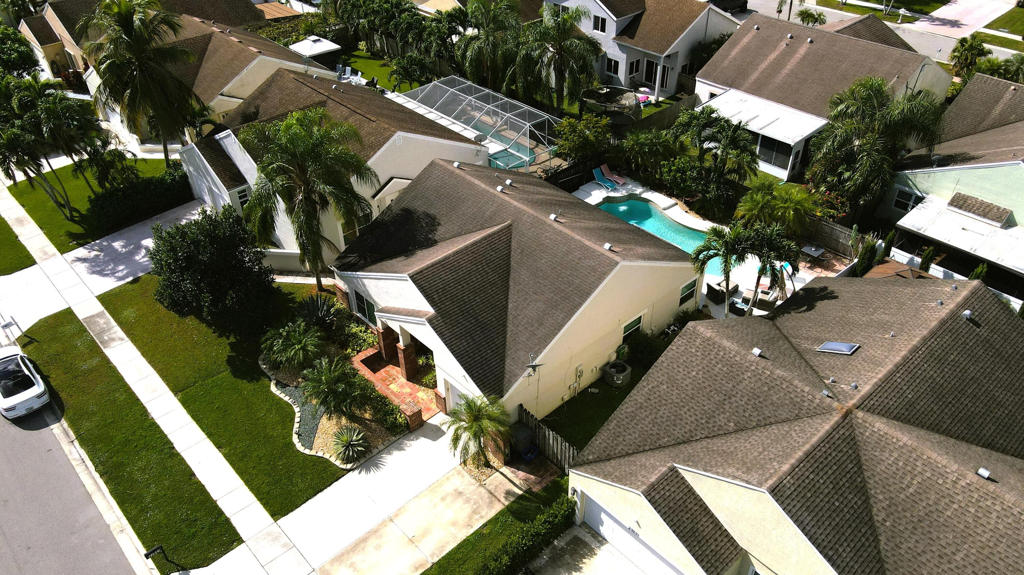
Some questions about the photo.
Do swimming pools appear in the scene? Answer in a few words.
Yes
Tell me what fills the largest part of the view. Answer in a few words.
buildings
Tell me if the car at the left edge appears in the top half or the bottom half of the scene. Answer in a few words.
bottom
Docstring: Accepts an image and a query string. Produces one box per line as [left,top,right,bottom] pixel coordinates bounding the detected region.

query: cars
[700,0,758,15]
[0,343,49,423]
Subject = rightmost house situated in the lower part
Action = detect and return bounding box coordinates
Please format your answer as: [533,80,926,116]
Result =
[570,277,1024,575]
